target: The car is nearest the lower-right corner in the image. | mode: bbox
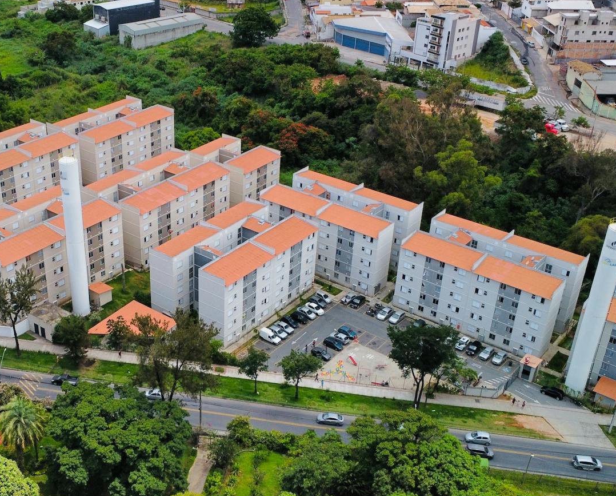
[573,455,601,471]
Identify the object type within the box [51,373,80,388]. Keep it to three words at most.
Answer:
vehicle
